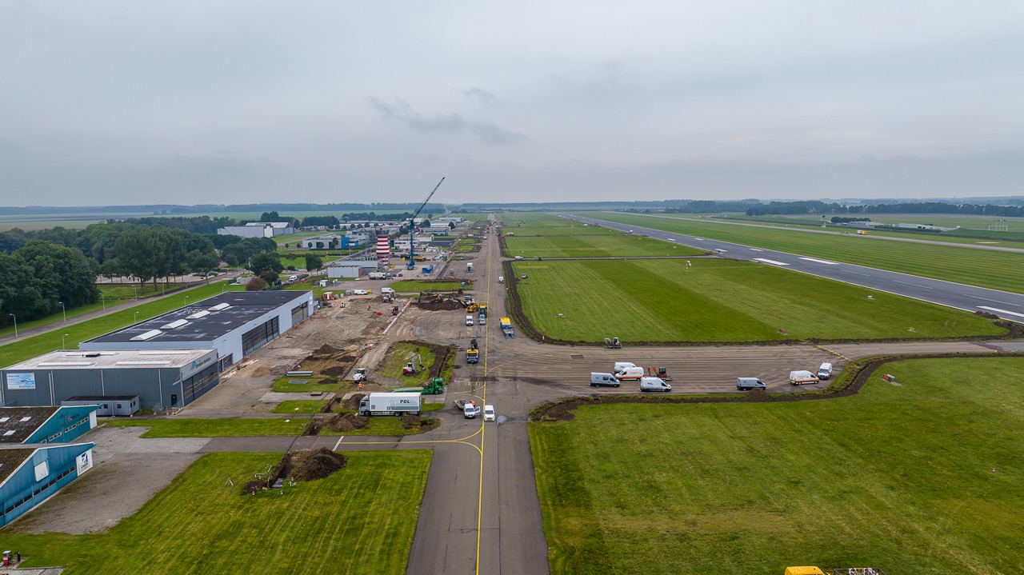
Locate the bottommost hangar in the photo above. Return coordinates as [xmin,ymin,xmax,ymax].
[0,443,98,529]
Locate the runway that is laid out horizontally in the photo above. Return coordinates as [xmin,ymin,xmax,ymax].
[550,212,1024,323]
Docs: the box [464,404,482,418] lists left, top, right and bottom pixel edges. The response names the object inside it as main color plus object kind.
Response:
white vehicle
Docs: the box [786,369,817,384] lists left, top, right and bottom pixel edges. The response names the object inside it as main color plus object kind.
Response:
white vehicle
